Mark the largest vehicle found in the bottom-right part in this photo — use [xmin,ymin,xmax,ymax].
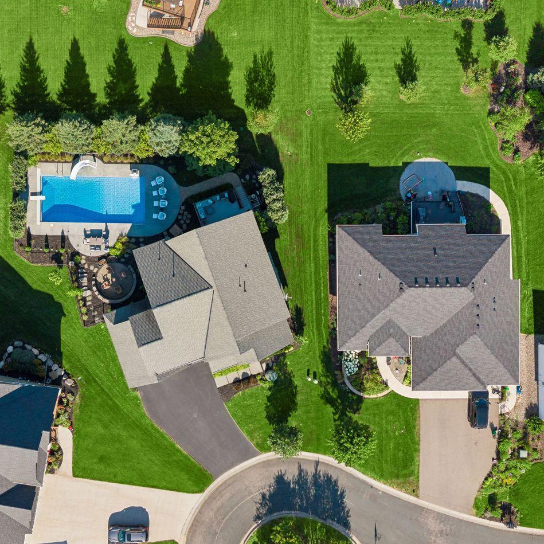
[470,387,492,430]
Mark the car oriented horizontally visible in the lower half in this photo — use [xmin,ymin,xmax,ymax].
[109,525,149,544]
